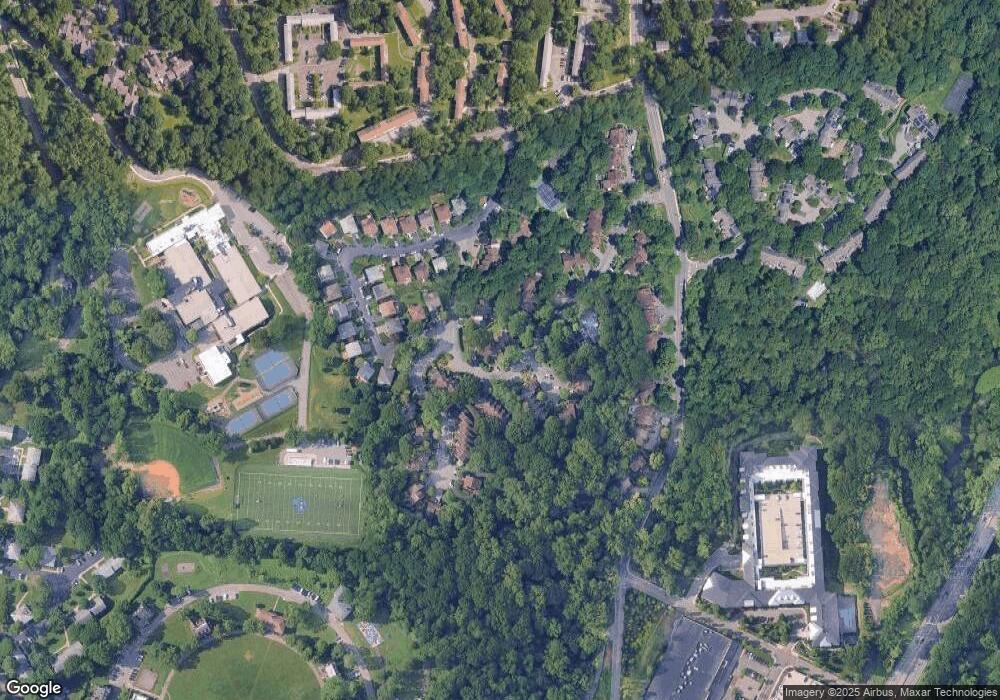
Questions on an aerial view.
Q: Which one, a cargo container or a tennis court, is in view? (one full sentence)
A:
It is a tennis court that can be seen here.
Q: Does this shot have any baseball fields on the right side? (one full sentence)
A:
No, no baseball field is visible on the right side.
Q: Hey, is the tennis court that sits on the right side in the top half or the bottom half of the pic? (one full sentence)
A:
Seen from above, the tennis court that sits on the right side lies in the top half of the view.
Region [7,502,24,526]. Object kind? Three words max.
house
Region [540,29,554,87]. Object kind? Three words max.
building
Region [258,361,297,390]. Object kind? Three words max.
tennis court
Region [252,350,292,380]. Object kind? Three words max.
tennis court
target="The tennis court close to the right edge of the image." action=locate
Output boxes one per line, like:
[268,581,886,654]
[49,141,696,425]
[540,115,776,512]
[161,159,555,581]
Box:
[944,73,973,112]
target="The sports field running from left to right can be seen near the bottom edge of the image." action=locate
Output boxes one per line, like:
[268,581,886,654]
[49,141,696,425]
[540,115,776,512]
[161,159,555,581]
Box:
[174,634,318,700]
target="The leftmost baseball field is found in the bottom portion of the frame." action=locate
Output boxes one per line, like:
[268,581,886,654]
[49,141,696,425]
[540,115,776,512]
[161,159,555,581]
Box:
[125,421,222,500]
